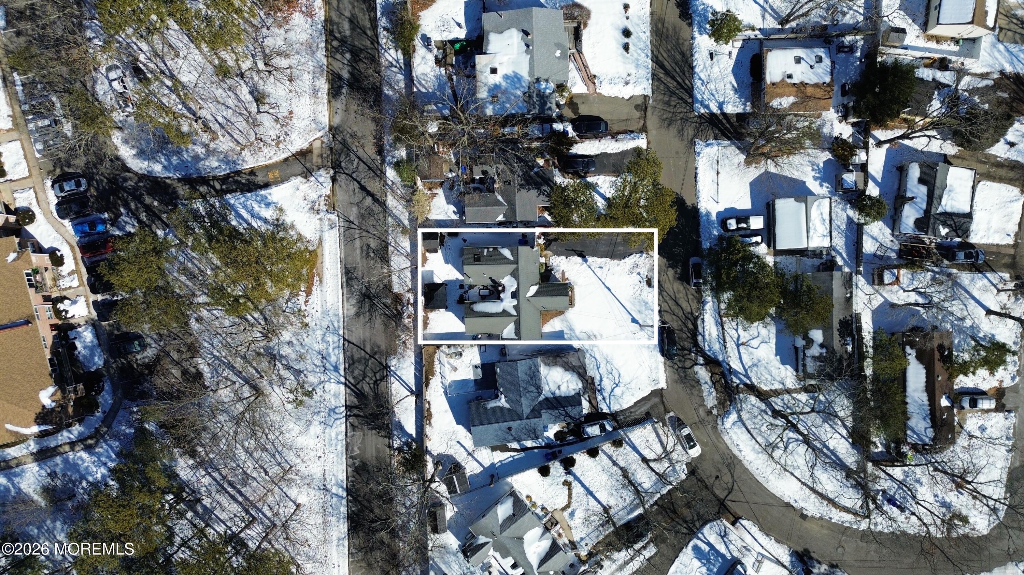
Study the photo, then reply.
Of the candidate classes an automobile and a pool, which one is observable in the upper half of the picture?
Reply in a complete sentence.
What appears in the upper half of the picture is an automobile.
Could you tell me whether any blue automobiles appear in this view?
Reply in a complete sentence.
Yes, the frame does contain a blue automobile.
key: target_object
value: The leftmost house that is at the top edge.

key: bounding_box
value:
[476,7,569,121]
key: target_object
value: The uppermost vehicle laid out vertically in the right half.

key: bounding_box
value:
[688,255,705,290]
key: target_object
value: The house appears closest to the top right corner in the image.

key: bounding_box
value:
[927,0,996,39]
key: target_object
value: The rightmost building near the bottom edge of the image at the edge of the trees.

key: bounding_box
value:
[462,487,571,575]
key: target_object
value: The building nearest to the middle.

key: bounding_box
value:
[463,246,568,340]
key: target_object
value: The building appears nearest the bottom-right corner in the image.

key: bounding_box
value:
[892,331,955,445]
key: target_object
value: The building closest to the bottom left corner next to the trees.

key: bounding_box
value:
[0,235,88,444]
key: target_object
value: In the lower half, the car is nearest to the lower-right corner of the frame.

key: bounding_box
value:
[959,395,998,412]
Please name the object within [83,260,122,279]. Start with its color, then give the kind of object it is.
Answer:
black car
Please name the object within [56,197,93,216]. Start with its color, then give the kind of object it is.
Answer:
black car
